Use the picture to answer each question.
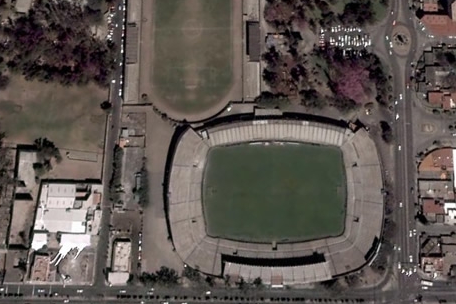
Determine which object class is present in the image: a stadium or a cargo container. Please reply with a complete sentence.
This aerial view contains a stadium.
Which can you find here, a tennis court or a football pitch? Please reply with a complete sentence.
The one in the frame is a football pitch.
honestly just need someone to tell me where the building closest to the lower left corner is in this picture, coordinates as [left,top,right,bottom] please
[30,255,49,281]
